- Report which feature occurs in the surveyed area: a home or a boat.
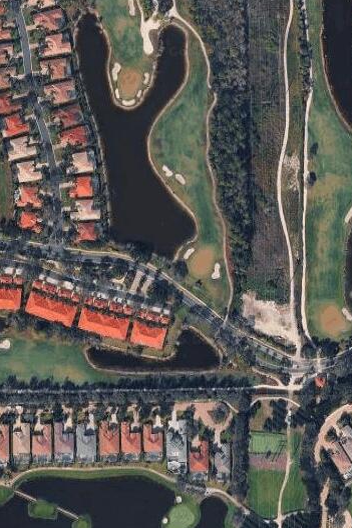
home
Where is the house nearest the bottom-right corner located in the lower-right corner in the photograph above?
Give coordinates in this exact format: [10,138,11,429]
[331,441,352,478]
